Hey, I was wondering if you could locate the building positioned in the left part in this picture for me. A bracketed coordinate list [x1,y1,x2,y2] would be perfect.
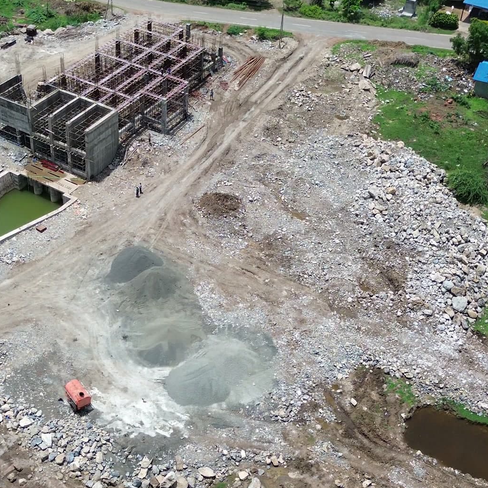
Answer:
[0,14,225,177]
